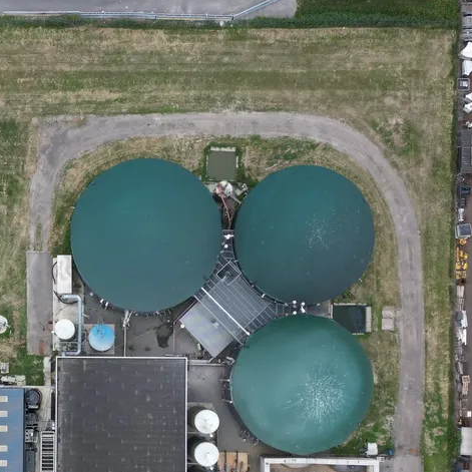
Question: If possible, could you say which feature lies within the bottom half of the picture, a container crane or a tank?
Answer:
tank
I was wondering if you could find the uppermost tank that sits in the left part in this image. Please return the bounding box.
[71,159,227,317]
